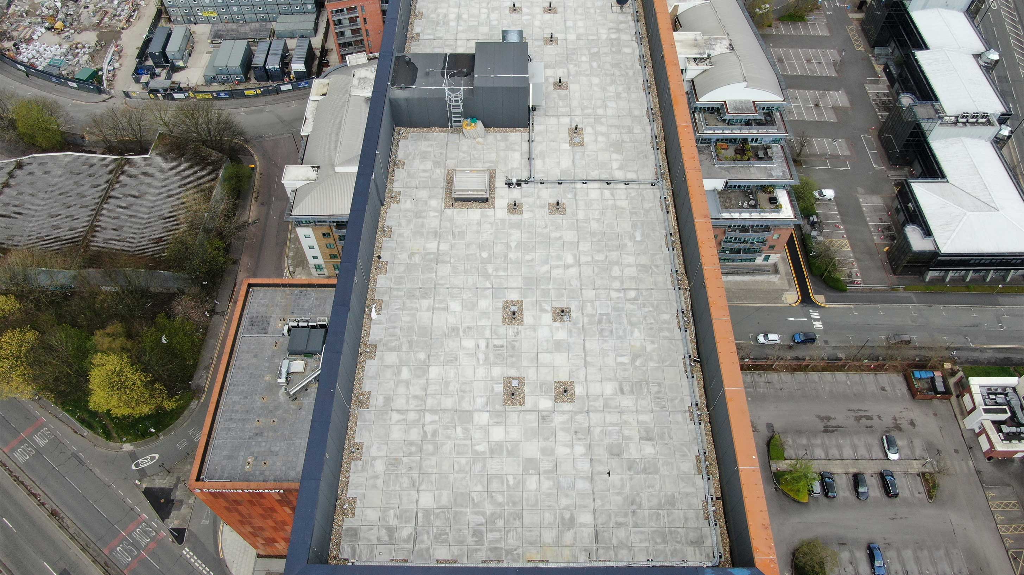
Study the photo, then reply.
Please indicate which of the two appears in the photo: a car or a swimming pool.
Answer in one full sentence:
Of the two, only a car appears.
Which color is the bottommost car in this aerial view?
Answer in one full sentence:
The color of the bottommost car is blue.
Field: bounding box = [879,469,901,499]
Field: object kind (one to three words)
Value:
car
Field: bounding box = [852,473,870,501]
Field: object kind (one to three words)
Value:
car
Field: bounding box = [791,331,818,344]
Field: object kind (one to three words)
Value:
vehicle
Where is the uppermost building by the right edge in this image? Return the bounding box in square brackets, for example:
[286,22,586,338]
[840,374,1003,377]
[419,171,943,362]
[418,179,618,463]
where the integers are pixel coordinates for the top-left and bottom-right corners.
[862,0,1024,290]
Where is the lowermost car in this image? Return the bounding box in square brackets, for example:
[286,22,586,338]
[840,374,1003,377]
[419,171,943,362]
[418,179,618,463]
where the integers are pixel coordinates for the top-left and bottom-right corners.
[866,543,886,575]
